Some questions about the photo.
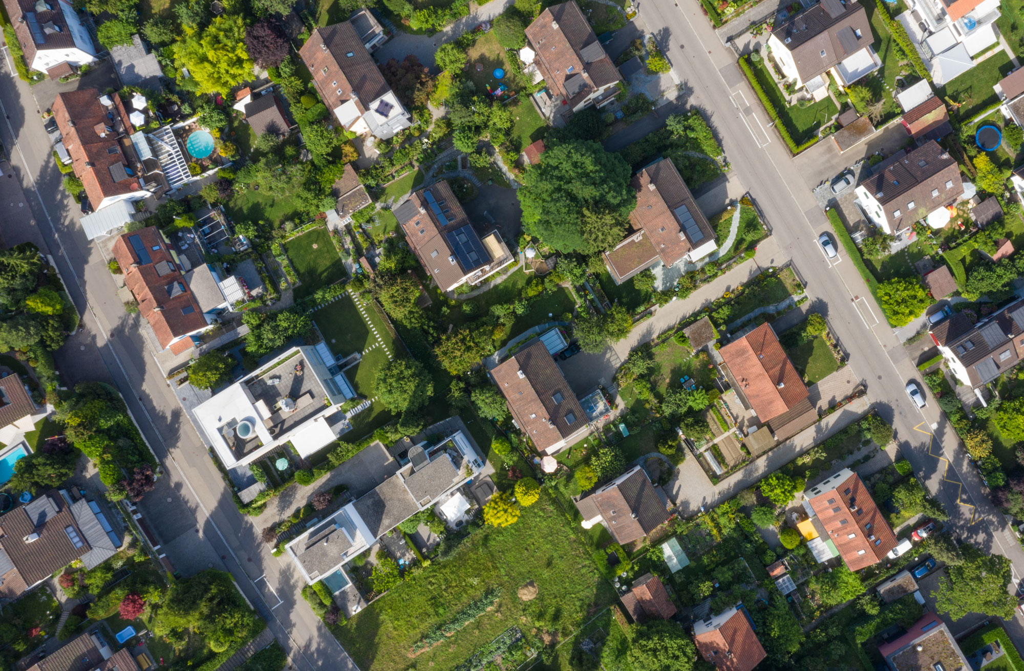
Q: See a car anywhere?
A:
Yes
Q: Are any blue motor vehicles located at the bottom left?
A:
No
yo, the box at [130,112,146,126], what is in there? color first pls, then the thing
white umbrella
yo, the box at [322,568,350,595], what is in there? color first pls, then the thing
blue swimming pool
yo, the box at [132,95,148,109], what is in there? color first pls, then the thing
white umbrella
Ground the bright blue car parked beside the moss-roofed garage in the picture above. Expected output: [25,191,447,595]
[910,557,938,581]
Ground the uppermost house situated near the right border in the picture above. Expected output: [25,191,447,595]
[902,0,1001,45]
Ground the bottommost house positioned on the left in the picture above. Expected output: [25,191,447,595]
[29,623,149,671]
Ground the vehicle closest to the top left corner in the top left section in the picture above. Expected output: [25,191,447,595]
[37,111,57,134]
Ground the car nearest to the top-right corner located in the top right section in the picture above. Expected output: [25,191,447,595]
[828,172,855,193]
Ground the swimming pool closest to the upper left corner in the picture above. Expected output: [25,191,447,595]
[187,130,218,160]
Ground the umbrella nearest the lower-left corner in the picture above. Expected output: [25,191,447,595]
[275,457,289,470]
